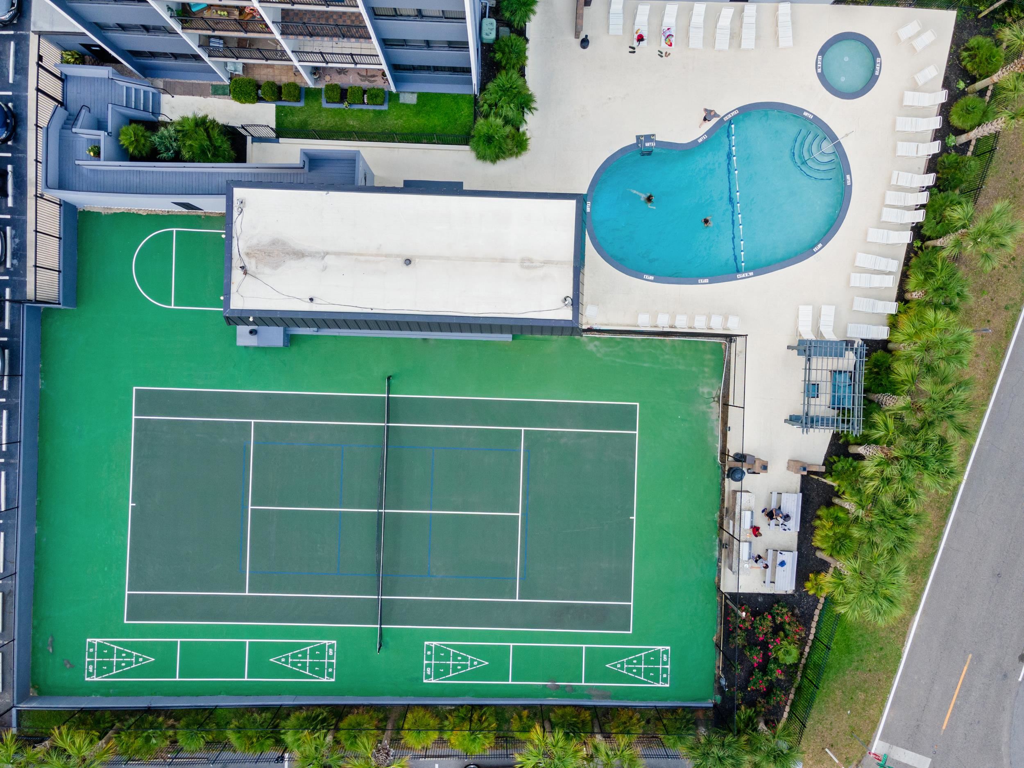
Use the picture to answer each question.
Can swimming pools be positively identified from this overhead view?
Yes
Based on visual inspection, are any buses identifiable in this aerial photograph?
No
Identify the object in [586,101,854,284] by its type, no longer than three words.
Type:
swimming pool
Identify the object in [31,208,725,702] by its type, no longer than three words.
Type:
tennis court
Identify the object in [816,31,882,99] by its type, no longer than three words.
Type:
swimming pool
